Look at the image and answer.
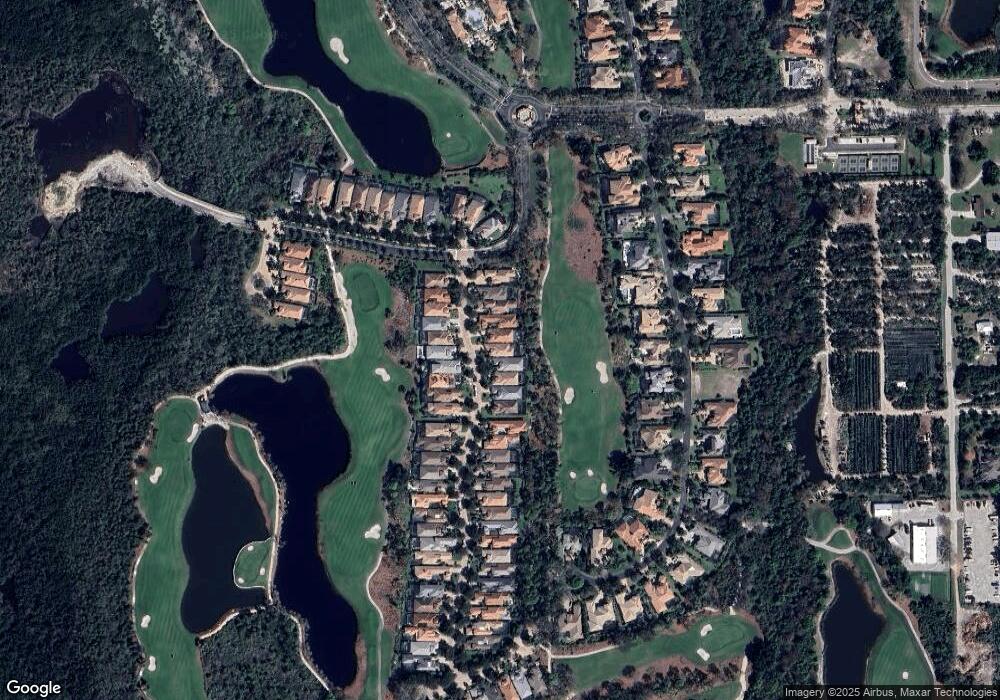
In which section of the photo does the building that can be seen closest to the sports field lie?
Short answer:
bottom right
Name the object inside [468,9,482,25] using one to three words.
swimming pool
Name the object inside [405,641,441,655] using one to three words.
house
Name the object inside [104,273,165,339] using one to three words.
pond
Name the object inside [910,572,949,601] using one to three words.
sports field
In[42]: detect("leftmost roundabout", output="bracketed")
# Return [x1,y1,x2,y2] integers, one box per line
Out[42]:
[504,94,546,136]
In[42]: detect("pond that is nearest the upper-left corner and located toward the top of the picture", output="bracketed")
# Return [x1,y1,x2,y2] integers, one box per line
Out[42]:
[31,73,147,176]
